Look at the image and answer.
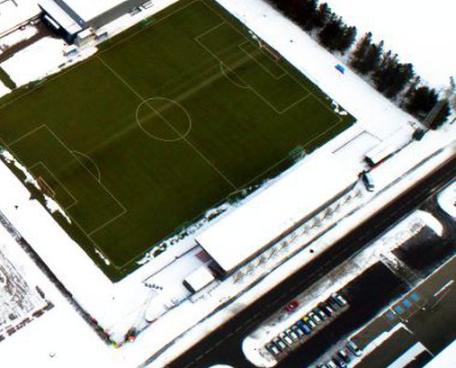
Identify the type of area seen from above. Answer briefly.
sports ground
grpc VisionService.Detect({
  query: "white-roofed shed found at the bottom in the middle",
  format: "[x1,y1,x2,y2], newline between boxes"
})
[182,267,215,295]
